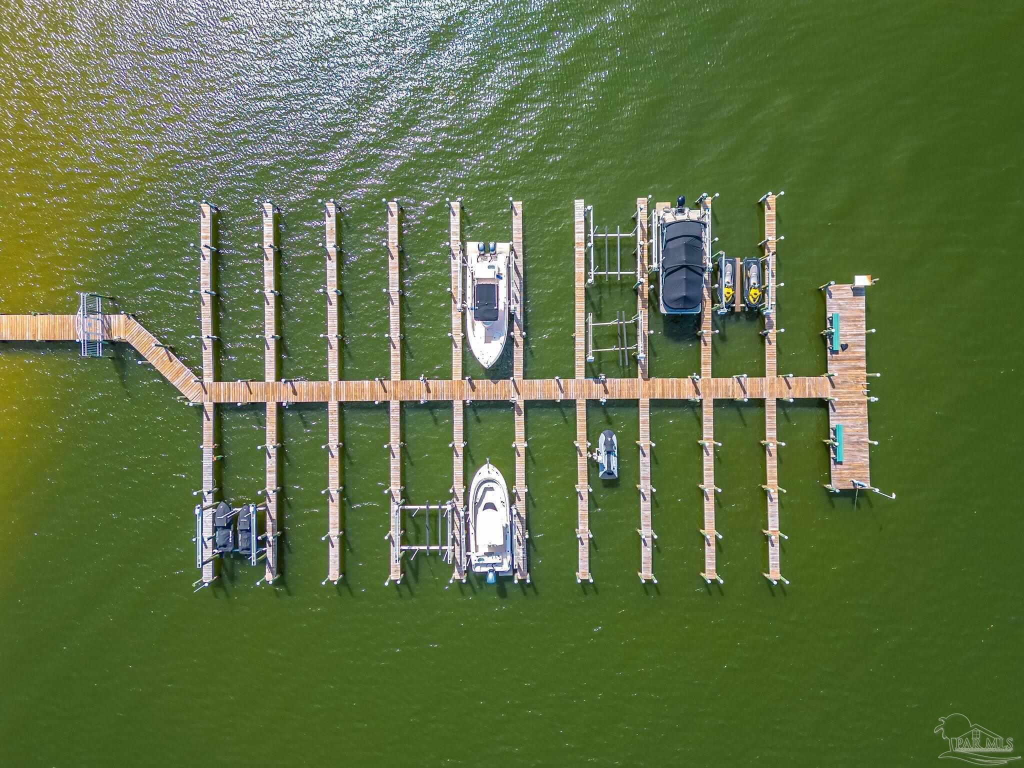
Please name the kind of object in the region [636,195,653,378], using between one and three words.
pier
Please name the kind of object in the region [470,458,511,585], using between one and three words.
boat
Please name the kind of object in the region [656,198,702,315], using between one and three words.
boat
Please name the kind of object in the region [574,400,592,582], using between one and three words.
pier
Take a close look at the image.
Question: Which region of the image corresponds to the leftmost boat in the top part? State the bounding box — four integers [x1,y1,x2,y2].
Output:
[467,242,509,369]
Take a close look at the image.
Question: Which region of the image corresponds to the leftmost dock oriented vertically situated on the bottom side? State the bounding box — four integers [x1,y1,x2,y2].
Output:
[193,403,223,586]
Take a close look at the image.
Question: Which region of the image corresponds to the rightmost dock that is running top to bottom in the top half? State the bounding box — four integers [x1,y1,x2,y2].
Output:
[758,192,784,377]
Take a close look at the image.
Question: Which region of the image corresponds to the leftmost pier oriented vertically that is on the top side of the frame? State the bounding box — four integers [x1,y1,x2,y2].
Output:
[190,199,221,381]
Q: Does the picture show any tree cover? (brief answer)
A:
No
